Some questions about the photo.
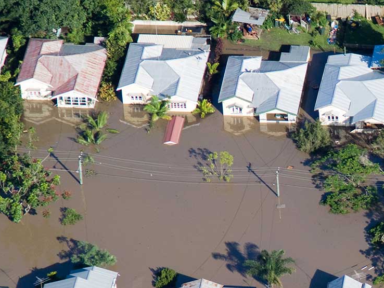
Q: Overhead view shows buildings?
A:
Yes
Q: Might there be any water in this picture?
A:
Yes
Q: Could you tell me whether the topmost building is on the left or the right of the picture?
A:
right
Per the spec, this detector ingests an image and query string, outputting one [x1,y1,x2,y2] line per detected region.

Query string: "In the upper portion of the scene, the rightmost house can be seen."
[314,45,384,138]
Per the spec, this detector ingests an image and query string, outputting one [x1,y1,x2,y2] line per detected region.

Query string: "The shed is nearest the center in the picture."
[164,116,184,147]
